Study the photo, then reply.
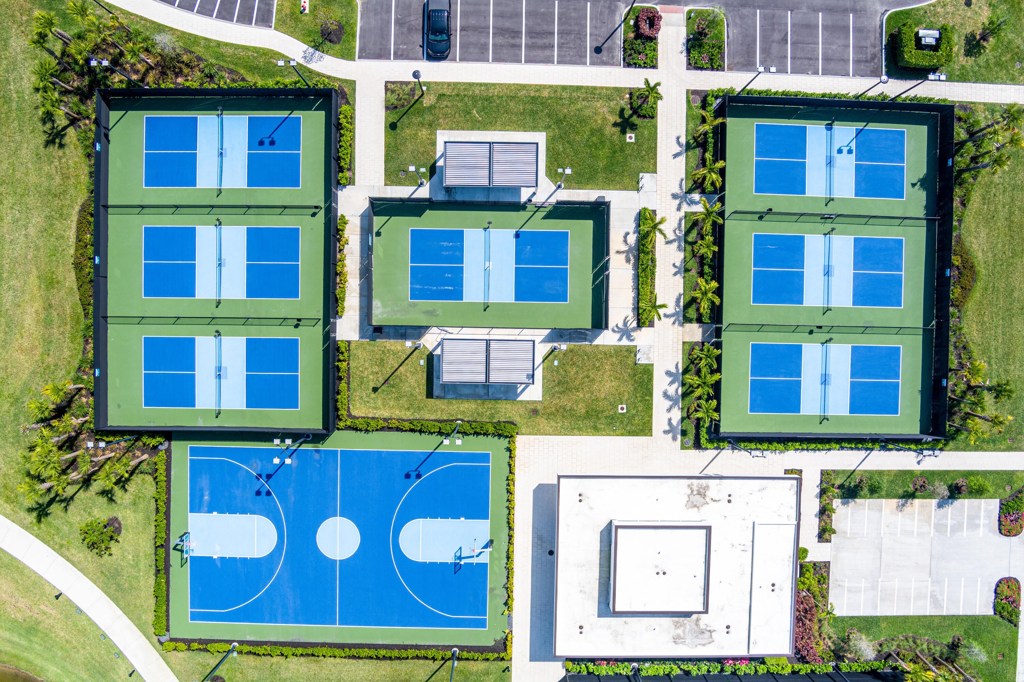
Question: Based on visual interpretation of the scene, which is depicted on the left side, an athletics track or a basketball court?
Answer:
basketball court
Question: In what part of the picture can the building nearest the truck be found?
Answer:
top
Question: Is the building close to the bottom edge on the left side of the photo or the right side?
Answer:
right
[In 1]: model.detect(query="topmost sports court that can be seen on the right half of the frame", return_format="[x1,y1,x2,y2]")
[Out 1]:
[718,104,939,221]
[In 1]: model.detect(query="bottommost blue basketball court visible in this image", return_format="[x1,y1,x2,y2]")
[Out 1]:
[170,431,509,646]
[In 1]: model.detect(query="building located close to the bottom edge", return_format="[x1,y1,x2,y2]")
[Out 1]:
[553,473,802,658]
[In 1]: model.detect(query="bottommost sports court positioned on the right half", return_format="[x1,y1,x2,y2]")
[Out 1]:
[713,325,934,434]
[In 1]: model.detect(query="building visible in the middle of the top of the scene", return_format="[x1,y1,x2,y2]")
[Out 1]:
[444,141,538,193]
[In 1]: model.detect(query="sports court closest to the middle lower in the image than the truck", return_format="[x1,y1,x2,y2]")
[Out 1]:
[373,202,606,328]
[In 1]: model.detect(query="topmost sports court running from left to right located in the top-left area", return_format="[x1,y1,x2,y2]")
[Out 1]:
[109,96,338,209]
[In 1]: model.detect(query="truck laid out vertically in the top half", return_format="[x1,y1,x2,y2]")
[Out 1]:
[425,0,453,60]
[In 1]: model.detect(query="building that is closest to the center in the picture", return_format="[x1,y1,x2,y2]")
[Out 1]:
[440,338,535,385]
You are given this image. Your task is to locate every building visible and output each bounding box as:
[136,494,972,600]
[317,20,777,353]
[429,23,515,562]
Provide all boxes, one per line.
[553,473,802,658]
[440,338,535,385]
[444,141,538,193]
